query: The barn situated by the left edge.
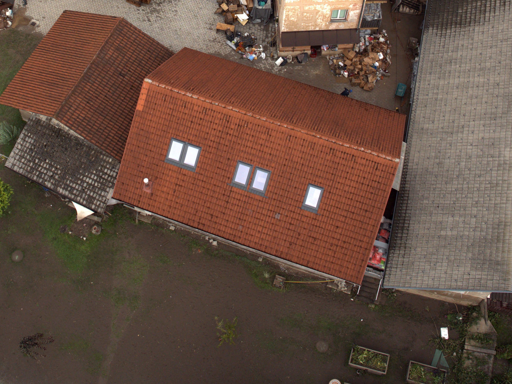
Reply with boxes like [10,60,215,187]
[0,10,176,214]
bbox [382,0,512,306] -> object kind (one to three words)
building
